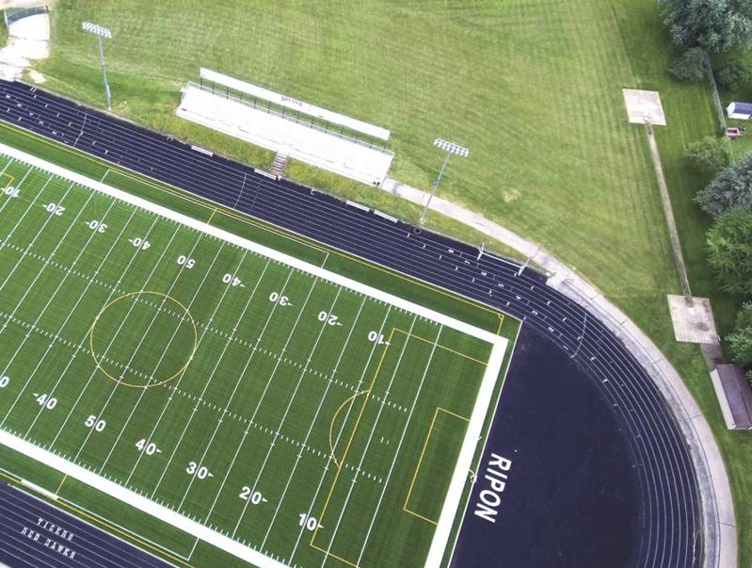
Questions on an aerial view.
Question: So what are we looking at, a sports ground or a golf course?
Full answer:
This looks like a sports ground.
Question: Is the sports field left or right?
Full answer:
It is on the left.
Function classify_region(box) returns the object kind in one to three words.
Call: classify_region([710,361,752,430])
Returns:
shed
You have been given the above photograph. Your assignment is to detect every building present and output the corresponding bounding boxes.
[723,97,752,120]
[710,361,752,430]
